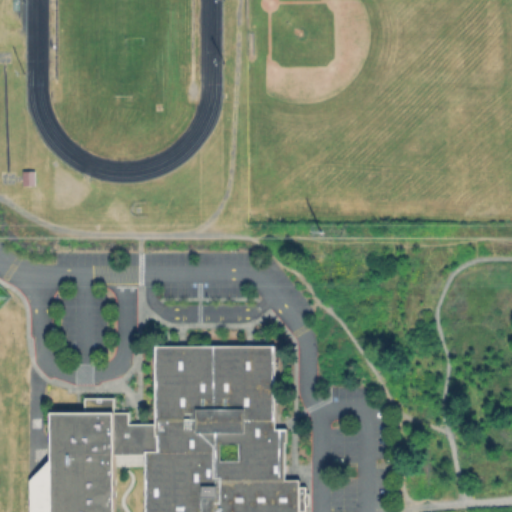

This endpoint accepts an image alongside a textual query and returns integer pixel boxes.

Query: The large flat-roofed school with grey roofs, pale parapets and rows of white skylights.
[30,346,307,512]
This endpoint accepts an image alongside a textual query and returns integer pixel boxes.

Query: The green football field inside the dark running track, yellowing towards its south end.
[50,0,201,160]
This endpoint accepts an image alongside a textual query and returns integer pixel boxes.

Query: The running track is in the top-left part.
[27,0,224,182]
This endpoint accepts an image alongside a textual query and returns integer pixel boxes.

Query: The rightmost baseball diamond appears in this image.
[250,0,512,220]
